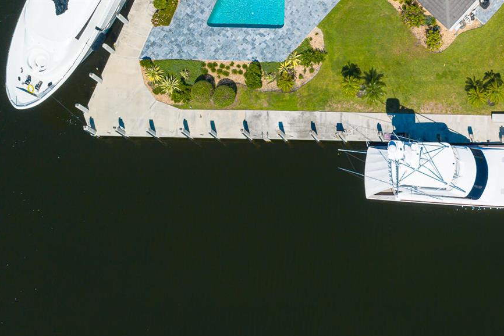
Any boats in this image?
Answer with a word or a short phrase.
Yes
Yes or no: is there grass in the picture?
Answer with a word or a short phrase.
Yes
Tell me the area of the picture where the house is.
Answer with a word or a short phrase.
top right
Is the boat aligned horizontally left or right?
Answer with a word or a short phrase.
right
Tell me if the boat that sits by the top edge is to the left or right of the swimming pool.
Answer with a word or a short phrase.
left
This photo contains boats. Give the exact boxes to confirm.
[338,127,504,208]
[2,0,137,109]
